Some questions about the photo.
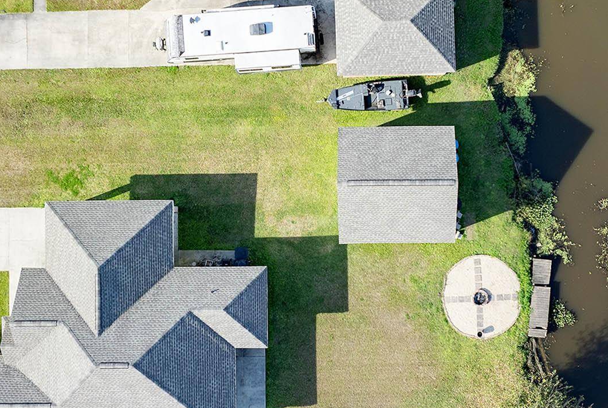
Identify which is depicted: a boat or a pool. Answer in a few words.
boat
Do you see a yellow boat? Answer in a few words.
No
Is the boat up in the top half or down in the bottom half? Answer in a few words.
top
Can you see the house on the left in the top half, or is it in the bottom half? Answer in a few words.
bottom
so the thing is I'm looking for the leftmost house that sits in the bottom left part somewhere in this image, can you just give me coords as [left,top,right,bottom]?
[0,200,269,408]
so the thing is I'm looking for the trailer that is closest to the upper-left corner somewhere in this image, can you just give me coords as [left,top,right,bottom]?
[155,4,325,77]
